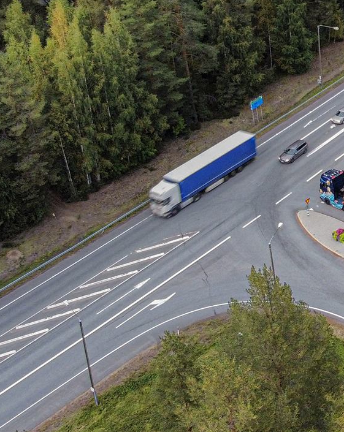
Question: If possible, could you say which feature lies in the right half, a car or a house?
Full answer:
Visible in the right half is a car.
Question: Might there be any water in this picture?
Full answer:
No, there is no water in the image.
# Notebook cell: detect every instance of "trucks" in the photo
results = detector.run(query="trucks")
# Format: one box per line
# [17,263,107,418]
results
[319,167,344,209]
[152,131,258,218]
